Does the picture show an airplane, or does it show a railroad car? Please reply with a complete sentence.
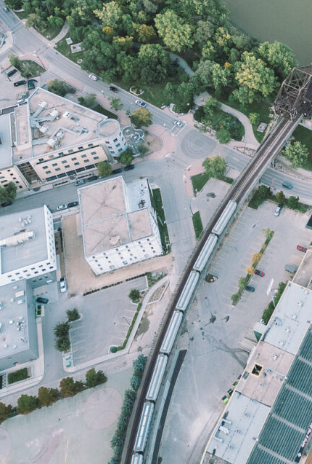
It is a railroad car that can be seen here.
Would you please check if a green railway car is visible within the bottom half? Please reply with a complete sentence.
No, the scene shows no green railway car within the bottom half.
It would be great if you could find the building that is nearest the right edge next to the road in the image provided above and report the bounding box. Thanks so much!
[77,175,161,274]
